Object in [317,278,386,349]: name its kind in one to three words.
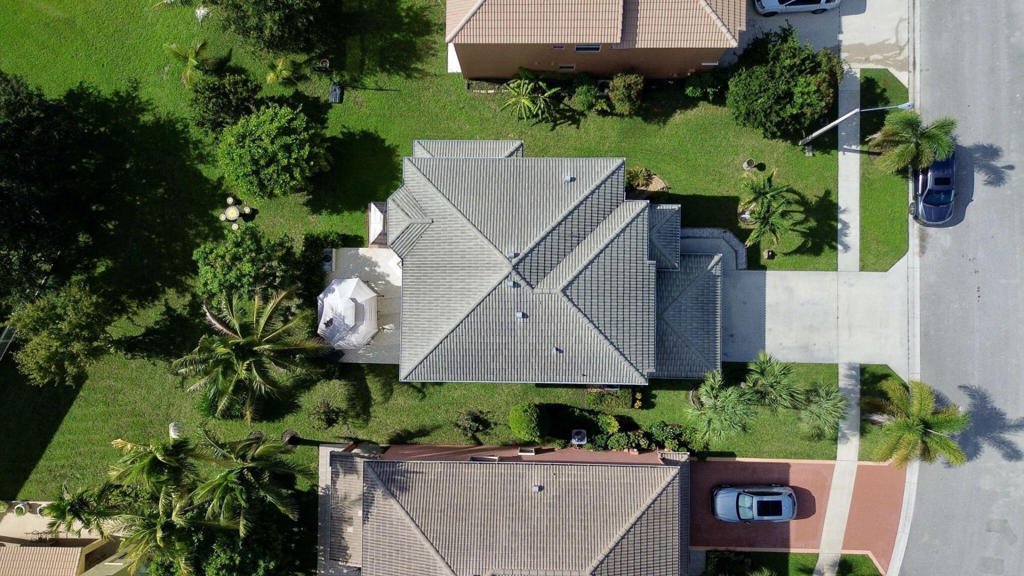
gazebo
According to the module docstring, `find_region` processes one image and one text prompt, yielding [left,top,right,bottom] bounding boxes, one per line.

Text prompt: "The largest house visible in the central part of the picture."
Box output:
[385,138,724,384]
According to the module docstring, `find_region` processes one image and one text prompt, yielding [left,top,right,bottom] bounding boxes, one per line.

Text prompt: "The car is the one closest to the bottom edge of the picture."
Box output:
[708,483,798,526]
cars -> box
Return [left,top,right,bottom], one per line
[708,483,798,526]
[750,0,839,15]
[911,144,962,227]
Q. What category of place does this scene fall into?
residential area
